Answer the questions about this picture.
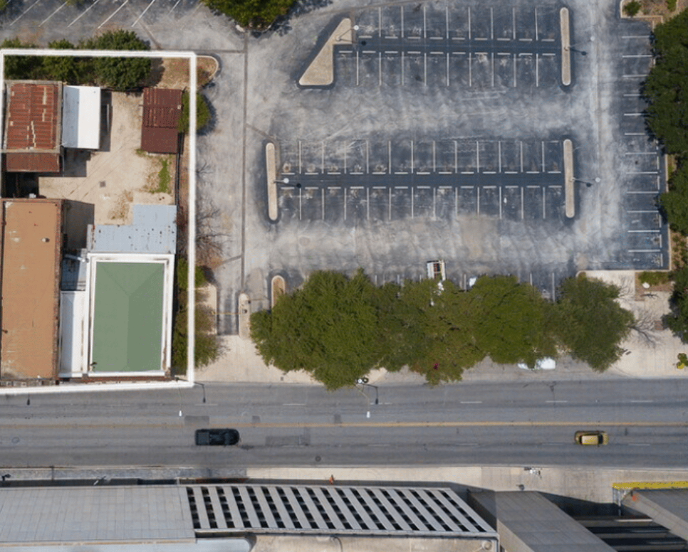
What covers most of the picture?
paved ground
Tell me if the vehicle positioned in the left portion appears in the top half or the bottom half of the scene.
bottom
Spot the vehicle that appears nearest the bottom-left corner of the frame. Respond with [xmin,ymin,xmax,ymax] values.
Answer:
[195,426,239,446]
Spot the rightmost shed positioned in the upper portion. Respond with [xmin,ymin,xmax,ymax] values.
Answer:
[141,88,181,154]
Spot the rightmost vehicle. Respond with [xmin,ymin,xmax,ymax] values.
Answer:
[574,430,607,447]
